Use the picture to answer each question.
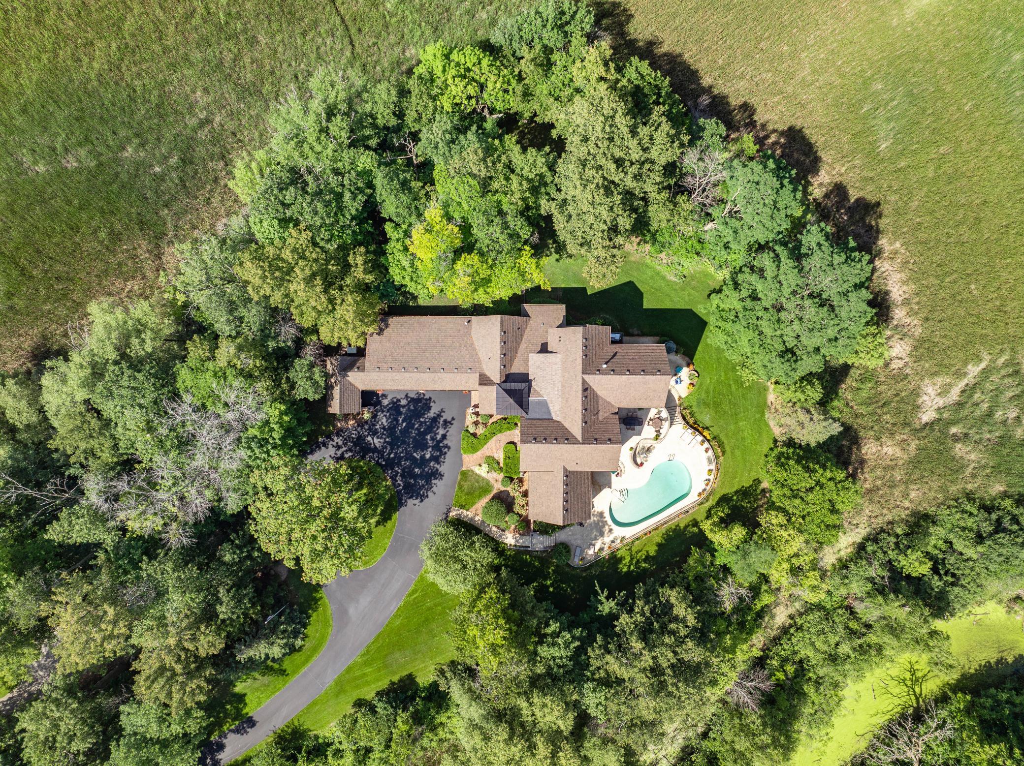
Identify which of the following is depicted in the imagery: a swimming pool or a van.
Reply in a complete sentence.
The one in the frame is a swimming pool.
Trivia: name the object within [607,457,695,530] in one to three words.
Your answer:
swimming pool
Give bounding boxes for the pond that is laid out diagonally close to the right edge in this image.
[798,591,1024,766]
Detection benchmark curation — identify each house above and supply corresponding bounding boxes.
[326,304,672,526]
